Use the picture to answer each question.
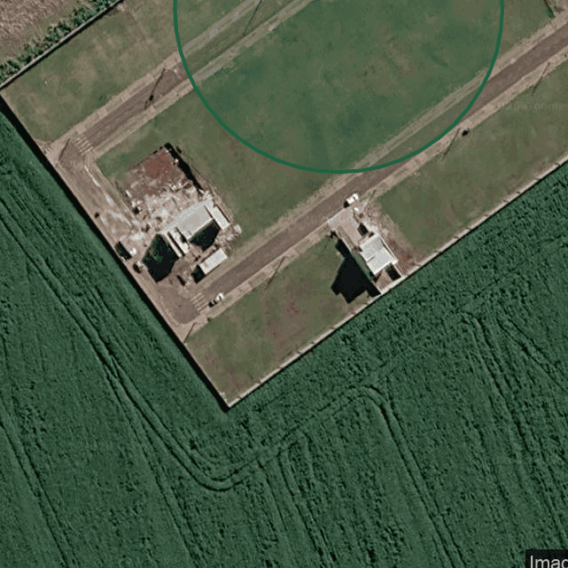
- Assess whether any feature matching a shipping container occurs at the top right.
No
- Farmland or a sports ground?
farmland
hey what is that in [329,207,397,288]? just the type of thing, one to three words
house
